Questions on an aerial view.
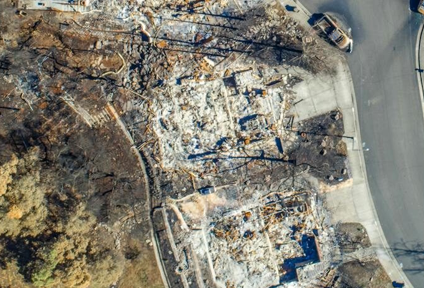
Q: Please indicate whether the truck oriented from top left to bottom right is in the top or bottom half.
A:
top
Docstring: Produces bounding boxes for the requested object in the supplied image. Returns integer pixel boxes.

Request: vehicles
[312,14,349,53]
[416,0,424,15]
